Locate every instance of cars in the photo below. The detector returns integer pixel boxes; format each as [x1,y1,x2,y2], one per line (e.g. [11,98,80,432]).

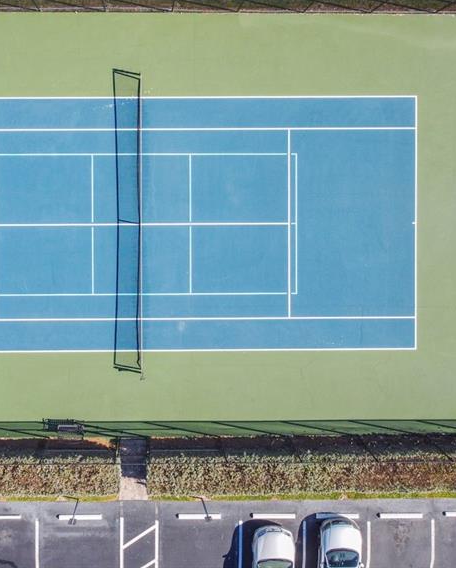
[316,517,369,568]
[250,525,294,568]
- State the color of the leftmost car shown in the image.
white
